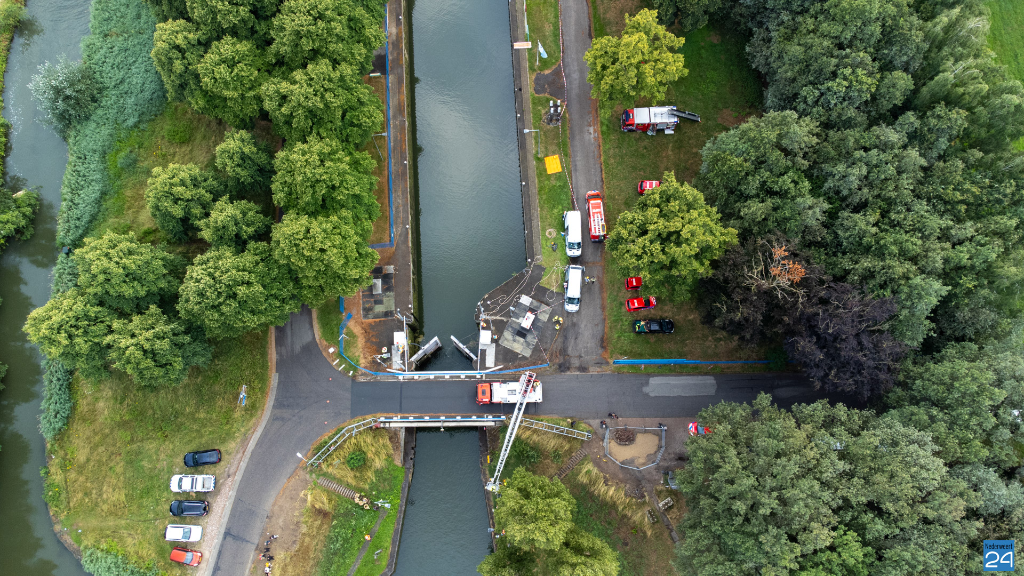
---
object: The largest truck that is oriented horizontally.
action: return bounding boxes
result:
[619,111,700,142]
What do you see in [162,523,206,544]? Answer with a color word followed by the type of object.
white car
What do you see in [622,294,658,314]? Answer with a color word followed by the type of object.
red car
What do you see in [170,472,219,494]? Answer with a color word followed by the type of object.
white truck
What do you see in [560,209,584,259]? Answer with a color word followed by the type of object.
white vehicle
